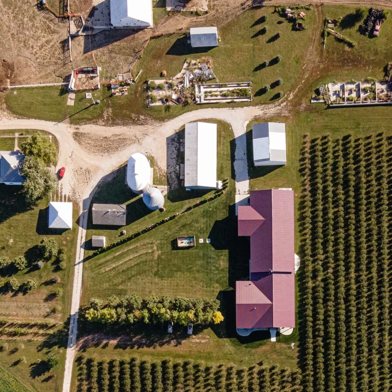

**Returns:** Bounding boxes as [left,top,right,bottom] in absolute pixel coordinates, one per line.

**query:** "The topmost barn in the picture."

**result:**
[110,0,154,31]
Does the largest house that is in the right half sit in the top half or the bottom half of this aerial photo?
bottom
